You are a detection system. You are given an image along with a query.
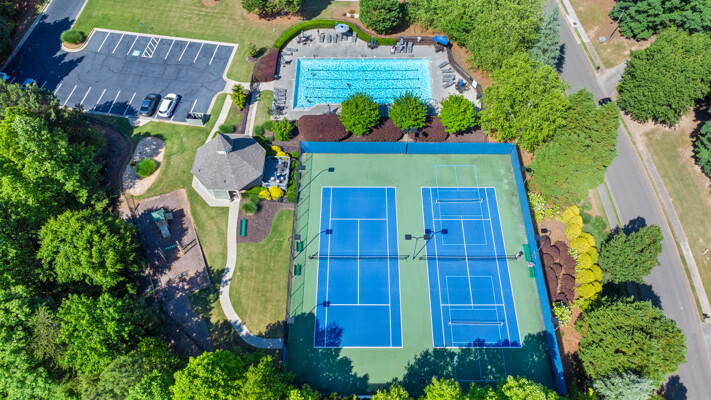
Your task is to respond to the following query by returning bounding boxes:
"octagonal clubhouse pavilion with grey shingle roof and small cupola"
[192,133,270,204]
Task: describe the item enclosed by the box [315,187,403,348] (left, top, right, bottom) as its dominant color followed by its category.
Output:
blue tennis court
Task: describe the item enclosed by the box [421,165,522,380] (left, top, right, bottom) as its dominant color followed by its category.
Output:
blue tennis court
